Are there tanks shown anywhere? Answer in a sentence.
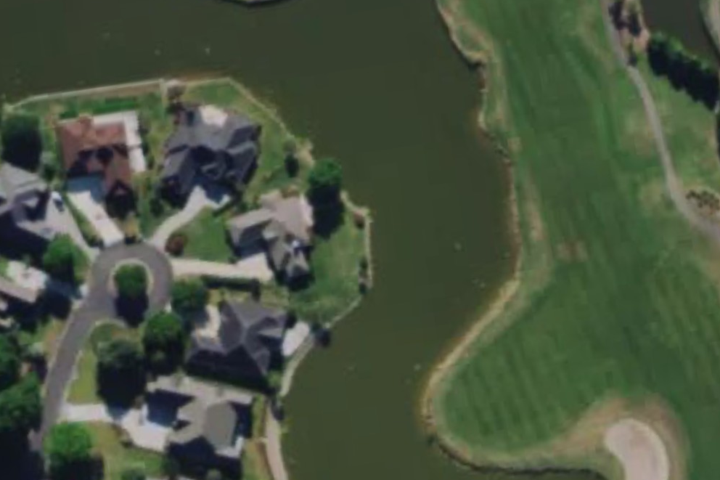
No, no tank is visible in the view.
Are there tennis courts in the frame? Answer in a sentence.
No, there's no tennis court here.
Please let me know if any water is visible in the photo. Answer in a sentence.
Yes, water can be seen from above here.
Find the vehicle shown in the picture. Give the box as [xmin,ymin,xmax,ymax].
[51,191,63,208]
